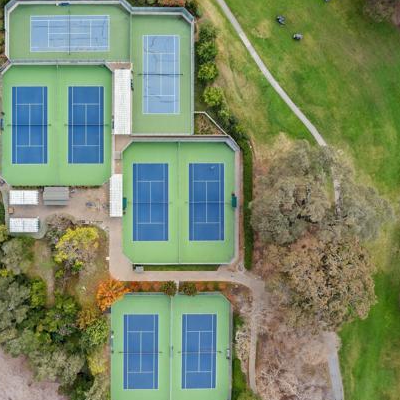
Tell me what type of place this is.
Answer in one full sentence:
What you see here is a sports ground.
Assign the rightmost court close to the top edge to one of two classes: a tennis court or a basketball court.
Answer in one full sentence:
Specifically, the rightmost court close to the top edge is a tennis court.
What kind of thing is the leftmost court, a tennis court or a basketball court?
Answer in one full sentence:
Specifically, the leftmost court is a tennis court.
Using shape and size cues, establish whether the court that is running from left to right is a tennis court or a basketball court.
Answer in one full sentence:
Specifically, the court that is running from left to right is a tennis court.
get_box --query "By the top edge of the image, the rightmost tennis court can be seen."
[131,15,191,134]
